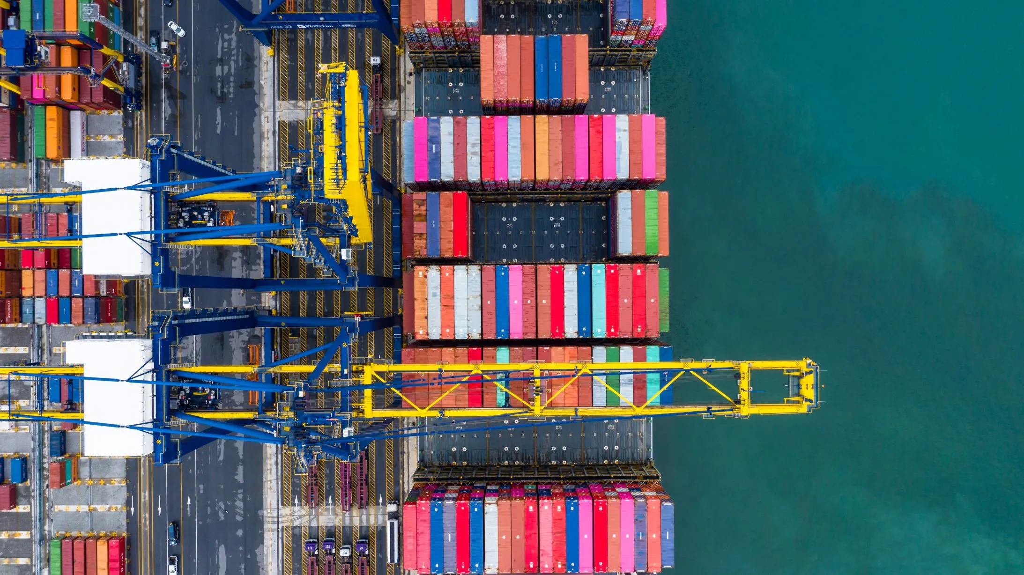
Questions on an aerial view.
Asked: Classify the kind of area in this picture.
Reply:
port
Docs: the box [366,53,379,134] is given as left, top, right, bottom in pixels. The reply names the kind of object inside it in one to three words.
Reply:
vehicle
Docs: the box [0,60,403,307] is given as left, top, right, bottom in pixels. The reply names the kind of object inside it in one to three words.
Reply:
container crane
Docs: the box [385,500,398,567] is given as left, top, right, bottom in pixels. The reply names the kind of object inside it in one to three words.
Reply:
vehicle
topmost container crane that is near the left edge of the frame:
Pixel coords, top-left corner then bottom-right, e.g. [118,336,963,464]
[0,28,133,106]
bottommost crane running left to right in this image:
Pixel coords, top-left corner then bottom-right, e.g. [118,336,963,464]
[0,291,826,493]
